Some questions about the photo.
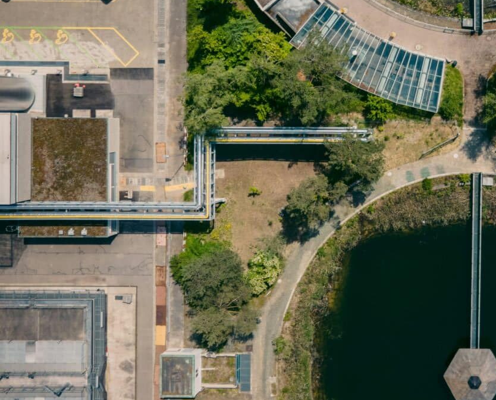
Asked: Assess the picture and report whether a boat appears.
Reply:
No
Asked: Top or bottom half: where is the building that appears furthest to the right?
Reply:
bottom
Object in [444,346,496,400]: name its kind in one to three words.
building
